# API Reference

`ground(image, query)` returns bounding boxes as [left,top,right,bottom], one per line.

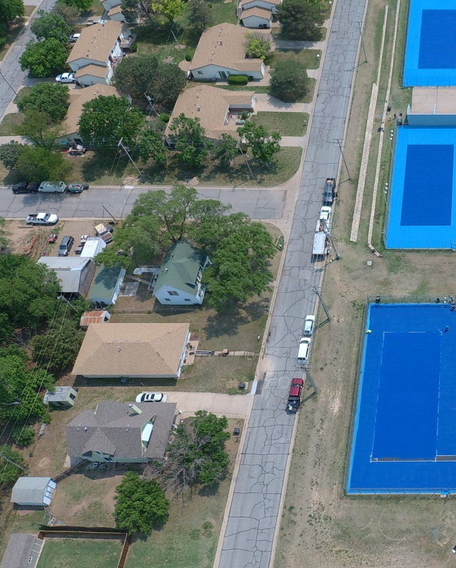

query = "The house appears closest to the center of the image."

[153,237,214,304]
